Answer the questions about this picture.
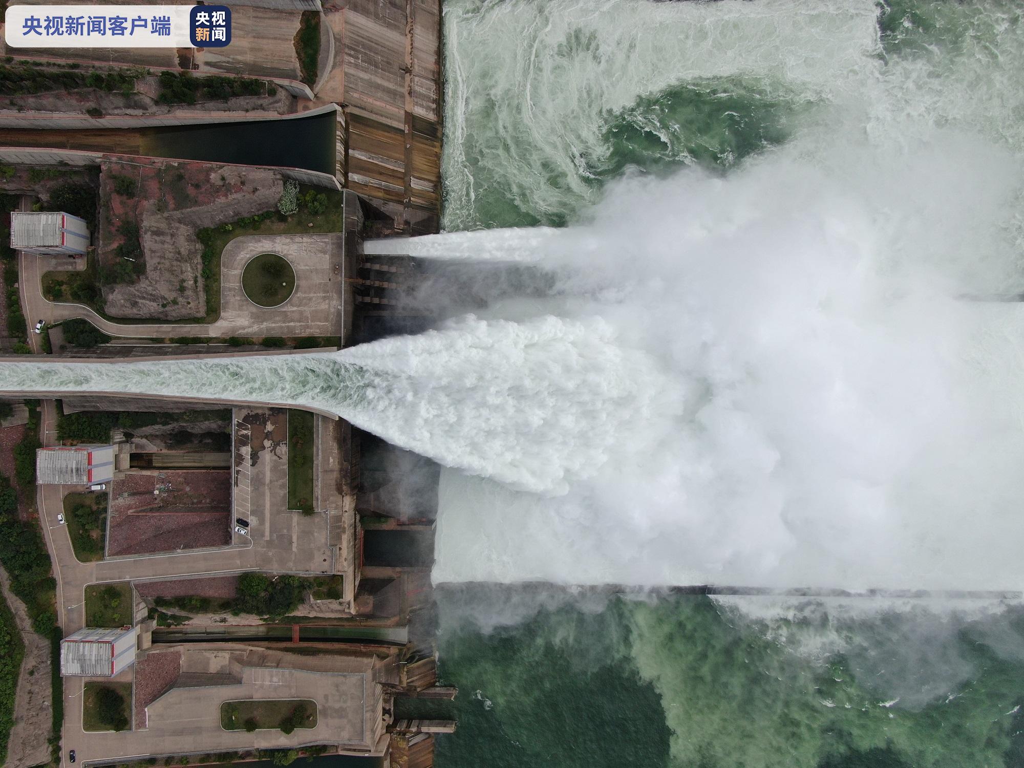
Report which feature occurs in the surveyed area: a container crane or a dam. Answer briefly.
dam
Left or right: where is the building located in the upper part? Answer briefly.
left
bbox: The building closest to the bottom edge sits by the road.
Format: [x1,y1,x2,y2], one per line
[60,626,136,677]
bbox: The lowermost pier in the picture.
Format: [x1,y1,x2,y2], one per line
[399,714,457,733]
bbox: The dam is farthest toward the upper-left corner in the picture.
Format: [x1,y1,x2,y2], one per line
[342,192,376,349]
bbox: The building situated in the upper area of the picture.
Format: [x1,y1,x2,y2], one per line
[10,212,90,259]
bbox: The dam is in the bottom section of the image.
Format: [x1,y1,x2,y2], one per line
[320,415,371,613]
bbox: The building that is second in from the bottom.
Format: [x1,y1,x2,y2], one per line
[37,444,114,485]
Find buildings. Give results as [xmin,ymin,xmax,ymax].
[10,212,90,259]
[60,626,136,677]
[37,444,114,485]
